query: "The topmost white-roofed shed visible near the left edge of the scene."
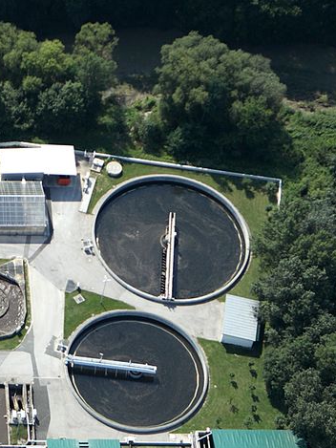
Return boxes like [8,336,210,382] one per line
[0,145,76,186]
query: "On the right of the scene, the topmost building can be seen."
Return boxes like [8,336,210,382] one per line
[220,295,259,349]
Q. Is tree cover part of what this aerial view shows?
Yes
